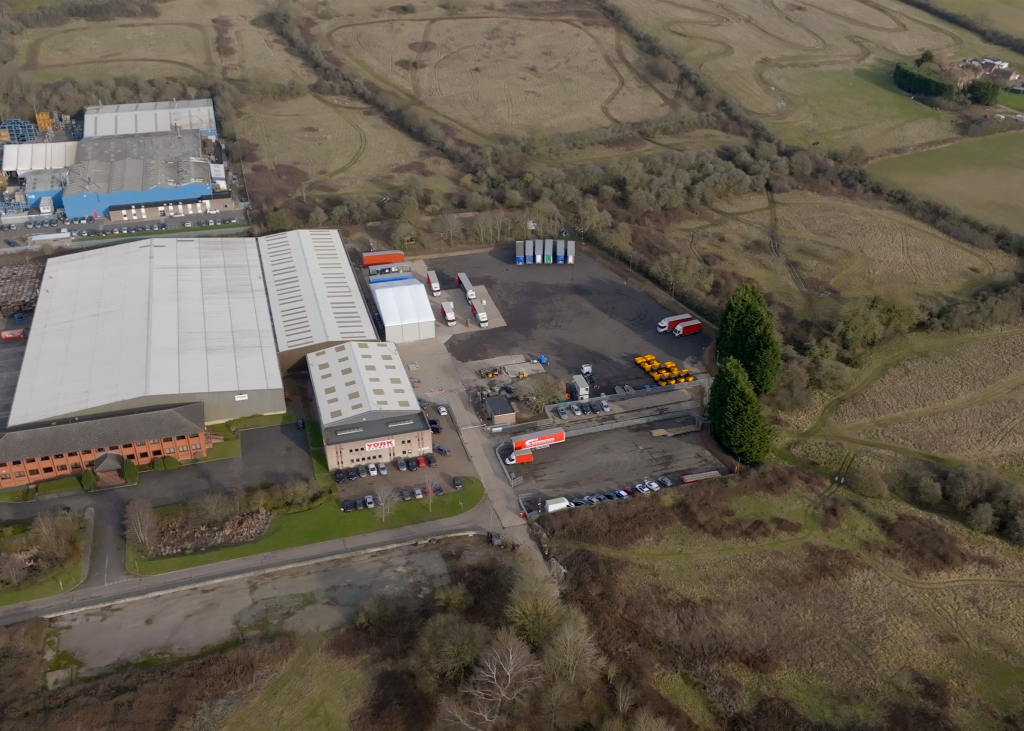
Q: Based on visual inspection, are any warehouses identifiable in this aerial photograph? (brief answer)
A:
Yes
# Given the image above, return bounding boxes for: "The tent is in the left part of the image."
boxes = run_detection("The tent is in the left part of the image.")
[367,275,438,342]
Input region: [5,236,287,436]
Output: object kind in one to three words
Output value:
warehouse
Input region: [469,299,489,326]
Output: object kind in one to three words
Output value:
vehicle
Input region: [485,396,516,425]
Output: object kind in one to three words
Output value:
shed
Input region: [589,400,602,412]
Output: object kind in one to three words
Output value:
vehicle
